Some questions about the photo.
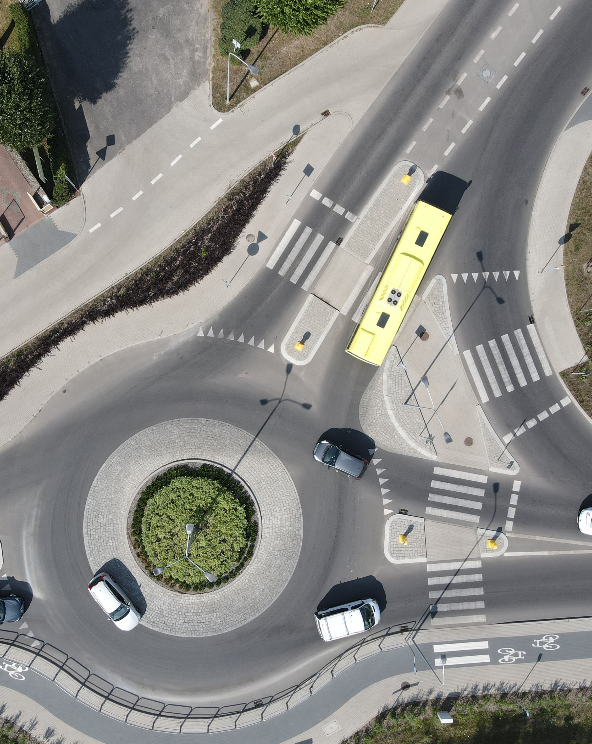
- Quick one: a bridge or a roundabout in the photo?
roundabout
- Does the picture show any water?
No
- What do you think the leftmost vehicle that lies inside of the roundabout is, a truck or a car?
car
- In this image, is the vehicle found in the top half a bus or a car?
bus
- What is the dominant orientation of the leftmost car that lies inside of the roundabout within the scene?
on a diagonal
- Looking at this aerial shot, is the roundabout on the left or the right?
left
